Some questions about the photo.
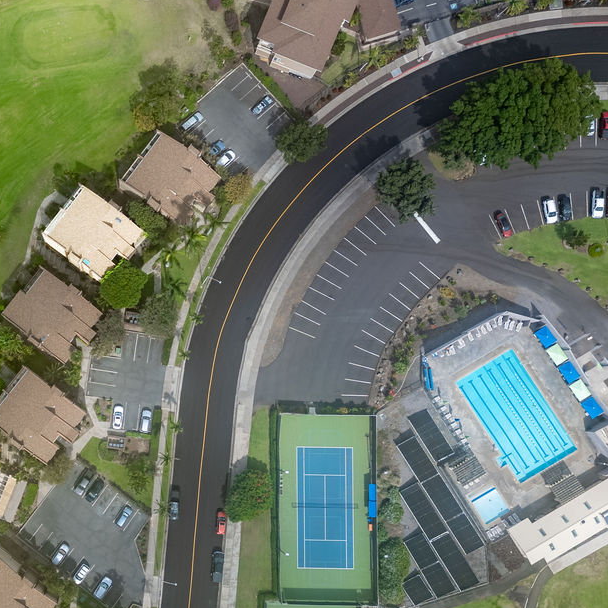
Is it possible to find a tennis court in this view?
Yes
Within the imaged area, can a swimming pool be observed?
Yes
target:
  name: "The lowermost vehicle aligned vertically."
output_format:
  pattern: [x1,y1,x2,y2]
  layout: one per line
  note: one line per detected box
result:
[210,551,223,581]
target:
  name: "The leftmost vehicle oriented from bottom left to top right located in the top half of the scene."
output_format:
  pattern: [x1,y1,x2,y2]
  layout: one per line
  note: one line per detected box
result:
[180,110,205,133]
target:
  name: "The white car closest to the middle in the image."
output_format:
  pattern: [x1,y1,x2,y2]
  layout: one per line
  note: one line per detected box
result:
[215,147,237,167]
